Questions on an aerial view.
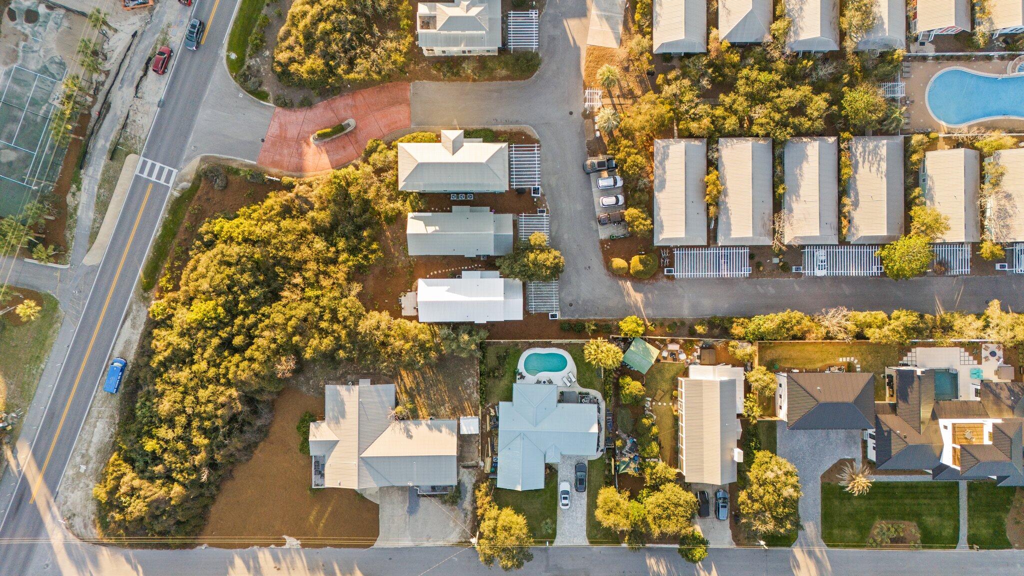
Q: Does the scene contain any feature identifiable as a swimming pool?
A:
Yes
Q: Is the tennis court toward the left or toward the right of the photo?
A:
left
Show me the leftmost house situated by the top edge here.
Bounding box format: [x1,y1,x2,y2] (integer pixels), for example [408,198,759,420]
[418,0,502,49]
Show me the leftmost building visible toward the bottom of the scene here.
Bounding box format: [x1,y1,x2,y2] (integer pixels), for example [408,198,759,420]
[307,379,457,495]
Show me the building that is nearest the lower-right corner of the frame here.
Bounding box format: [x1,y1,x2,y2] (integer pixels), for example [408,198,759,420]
[866,367,1024,488]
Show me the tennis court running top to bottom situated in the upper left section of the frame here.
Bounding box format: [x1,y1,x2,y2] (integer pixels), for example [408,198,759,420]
[0,0,67,220]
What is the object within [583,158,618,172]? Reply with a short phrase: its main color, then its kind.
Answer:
gray vehicle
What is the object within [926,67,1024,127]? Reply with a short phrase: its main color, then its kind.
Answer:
blue swimming pool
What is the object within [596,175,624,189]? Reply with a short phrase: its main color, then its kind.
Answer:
white car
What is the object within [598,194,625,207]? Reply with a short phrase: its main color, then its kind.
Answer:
white vehicle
